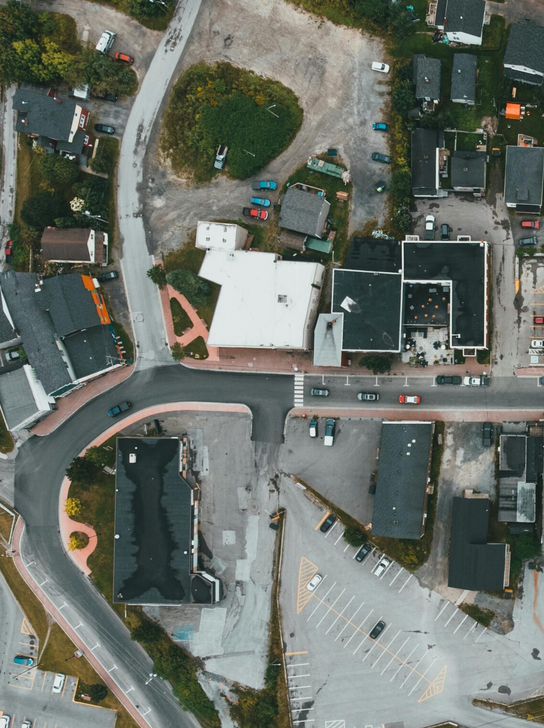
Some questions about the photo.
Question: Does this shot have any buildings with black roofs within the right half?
Yes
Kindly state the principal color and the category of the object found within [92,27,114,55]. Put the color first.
white vehicle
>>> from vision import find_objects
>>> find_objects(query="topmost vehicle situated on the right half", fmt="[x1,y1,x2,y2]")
[369,60,390,73]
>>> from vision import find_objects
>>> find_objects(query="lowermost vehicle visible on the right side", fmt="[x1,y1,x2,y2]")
[369,620,386,640]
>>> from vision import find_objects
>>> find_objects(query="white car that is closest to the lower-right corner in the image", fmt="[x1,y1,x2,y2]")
[374,558,390,578]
